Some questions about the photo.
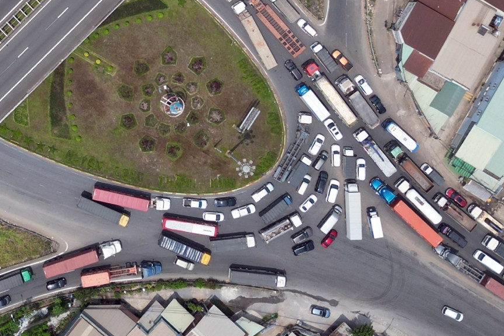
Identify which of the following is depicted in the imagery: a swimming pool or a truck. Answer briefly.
truck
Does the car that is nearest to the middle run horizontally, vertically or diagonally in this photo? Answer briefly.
diagonally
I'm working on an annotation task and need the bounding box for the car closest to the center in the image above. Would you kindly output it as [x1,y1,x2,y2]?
[249,181,275,203]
